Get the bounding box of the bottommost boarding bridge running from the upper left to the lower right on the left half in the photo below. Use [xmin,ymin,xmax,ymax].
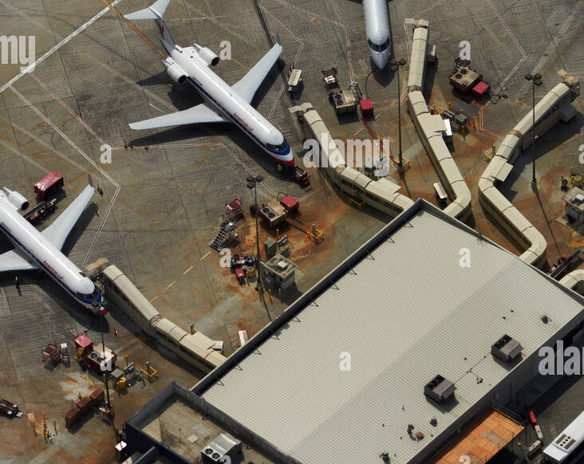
[84,257,226,381]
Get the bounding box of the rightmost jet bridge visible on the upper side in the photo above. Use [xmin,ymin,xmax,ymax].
[478,70,583,272]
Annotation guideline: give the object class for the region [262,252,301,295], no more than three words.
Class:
shed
